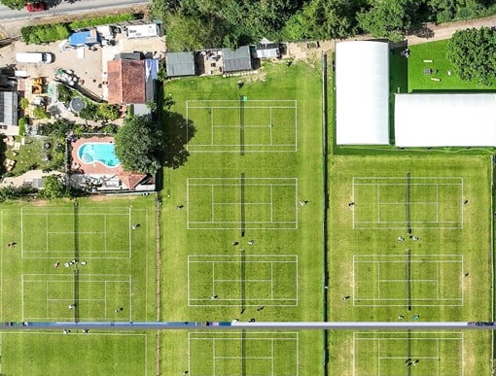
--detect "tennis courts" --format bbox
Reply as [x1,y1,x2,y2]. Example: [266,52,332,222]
[188,333,298,376]
[187,100,296,150]
[187,178,296,229]
[187,255,298,305]
[22,275,131,325]
[353,178,463,228]
[353,333,463,376]
[22,207,131,259]
[353,255,463,305]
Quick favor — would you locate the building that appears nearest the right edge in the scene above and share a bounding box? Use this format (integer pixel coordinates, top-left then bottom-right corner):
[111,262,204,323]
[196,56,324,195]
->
[395,93,496,148]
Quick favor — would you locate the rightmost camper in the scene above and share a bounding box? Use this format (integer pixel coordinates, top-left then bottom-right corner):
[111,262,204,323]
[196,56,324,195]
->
[128,24,160,40]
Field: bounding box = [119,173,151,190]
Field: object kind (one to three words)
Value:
building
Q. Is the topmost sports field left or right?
left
